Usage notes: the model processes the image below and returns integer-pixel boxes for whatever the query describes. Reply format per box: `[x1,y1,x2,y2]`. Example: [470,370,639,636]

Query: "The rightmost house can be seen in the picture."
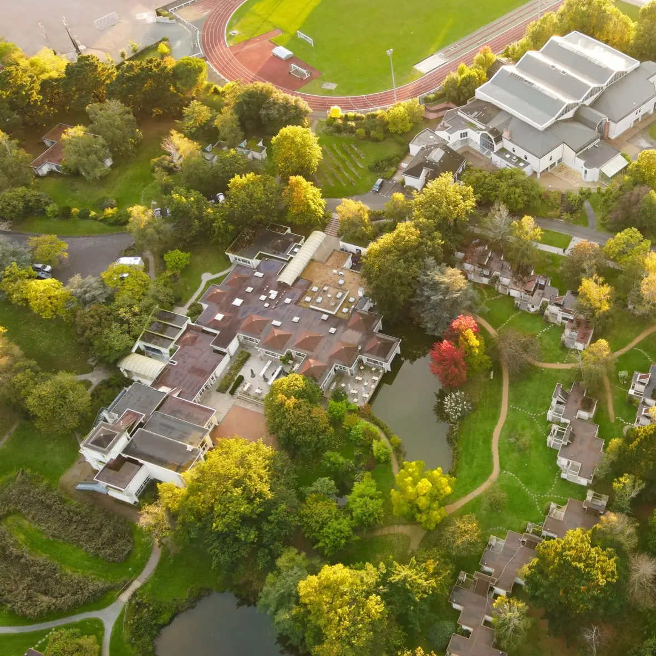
[627,365,656,421]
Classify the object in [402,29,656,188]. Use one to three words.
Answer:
building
